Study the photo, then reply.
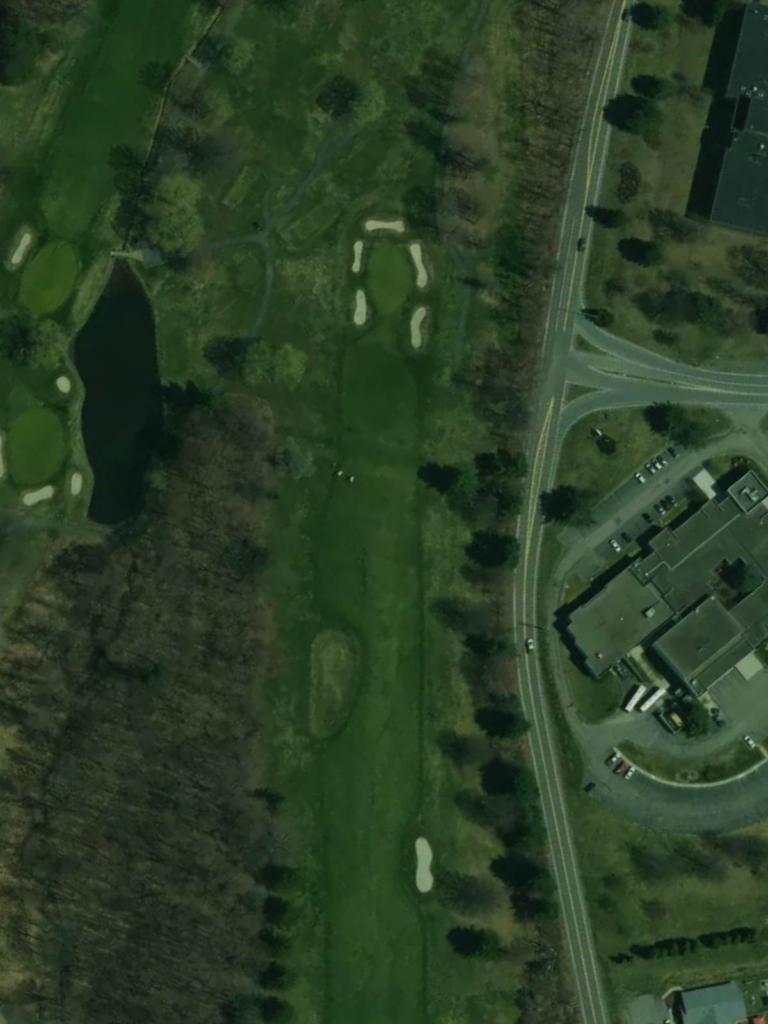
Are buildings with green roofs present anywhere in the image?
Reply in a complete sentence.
Yes, you can see a building with a green roof in this photo.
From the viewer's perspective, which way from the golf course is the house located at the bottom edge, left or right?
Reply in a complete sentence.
The house located at the bottom edge can be seen on the right of the golf course.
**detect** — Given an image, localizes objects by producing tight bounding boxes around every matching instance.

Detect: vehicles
[655,503,665,514]
[616,760,627,773]
[660,499,670,510]
[625,767,635,779]
[645,463,656,474]
[668,447,679,459]
[578,238,584,250]
[745,735,755,747]
[657,454,667,466]
[528,638,533,651]
[622,532,632,543]
[610,540,621,551]
[635,471,646,485]
[584,781,596,792]
[622,9,629,21]
[665,495,675,506]
[626,684,647,711]
[651,459,662,470]
[641,687,666,710]
[607,752,619,765]
[643,512,653,523]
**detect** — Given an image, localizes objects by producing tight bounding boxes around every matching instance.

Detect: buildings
[565,471,768,696]
[666,981,748,1024]
[706,3,768,236]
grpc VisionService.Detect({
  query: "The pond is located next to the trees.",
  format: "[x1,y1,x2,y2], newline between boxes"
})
[74,259,165,522]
